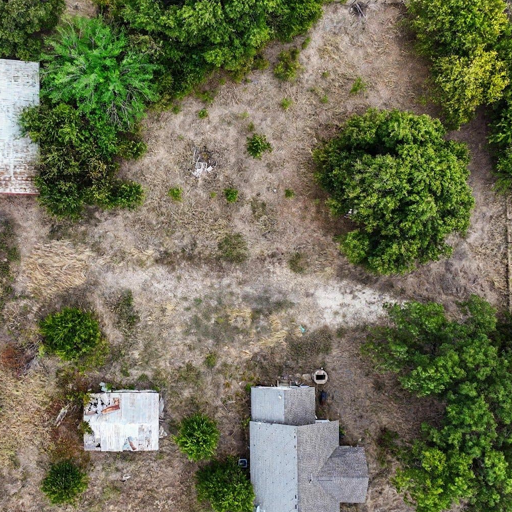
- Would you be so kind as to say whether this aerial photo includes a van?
No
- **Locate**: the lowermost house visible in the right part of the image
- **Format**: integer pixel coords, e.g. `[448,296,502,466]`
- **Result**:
[249,385,368,512]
